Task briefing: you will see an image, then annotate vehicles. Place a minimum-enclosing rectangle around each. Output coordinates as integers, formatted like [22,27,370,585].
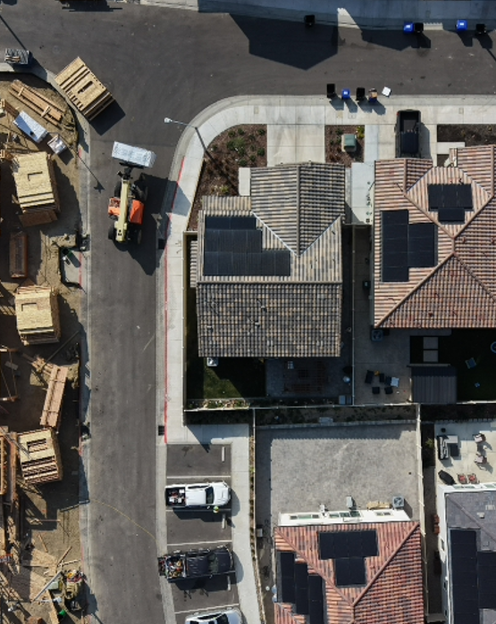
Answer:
[164,481,233,510]
[395,109,422,158]
[162,547,238,581]
[187,606,244,624]
[108,160,144,241]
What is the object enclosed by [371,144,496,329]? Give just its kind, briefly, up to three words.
house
